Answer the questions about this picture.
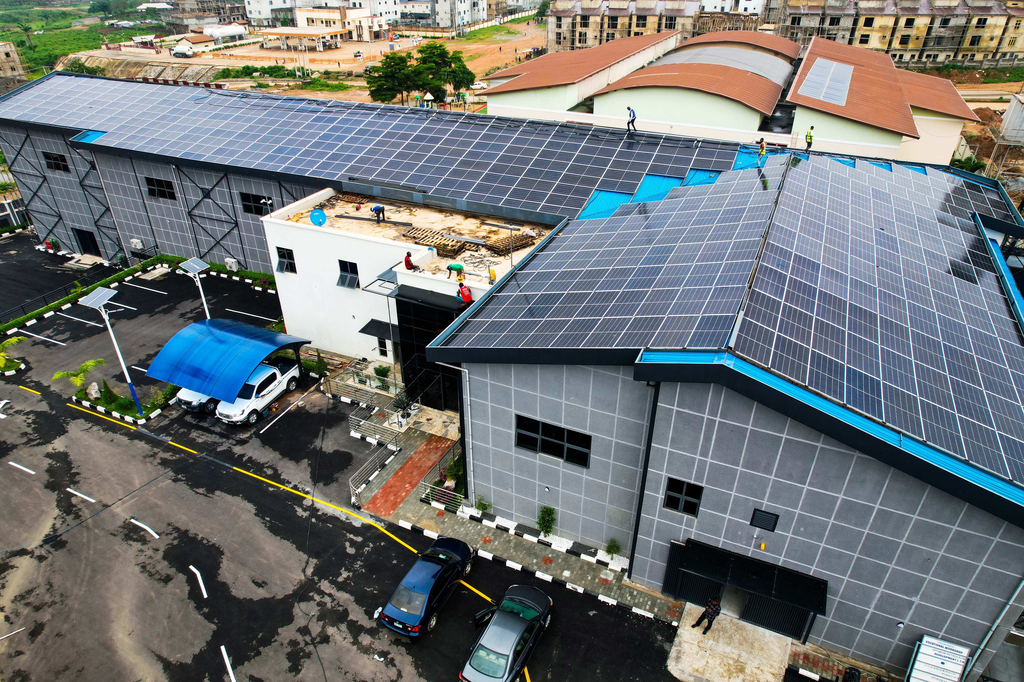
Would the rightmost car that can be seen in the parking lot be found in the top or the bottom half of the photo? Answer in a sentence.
Seen from above, the rightmost car that can be seen in the parking lot lies in the bottom half of the view.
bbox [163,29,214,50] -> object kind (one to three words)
house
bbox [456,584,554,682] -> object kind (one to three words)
car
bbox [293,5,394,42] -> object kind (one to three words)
building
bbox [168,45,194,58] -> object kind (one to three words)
vehicle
